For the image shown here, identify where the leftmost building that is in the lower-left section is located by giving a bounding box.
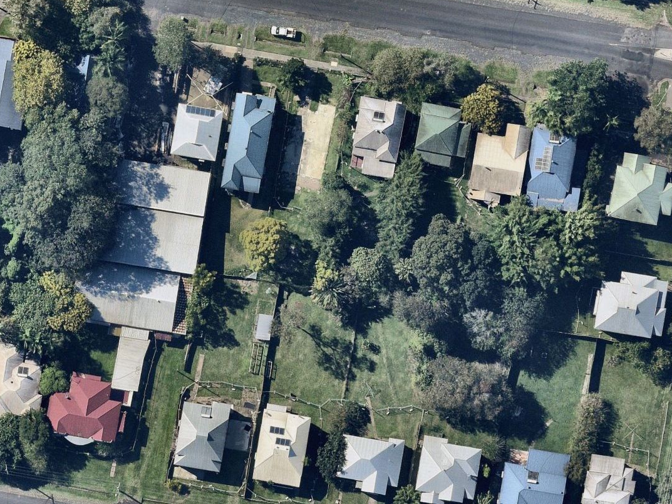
[0,343,42,416]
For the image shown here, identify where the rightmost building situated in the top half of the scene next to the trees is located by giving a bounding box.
[606,153,672,226]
